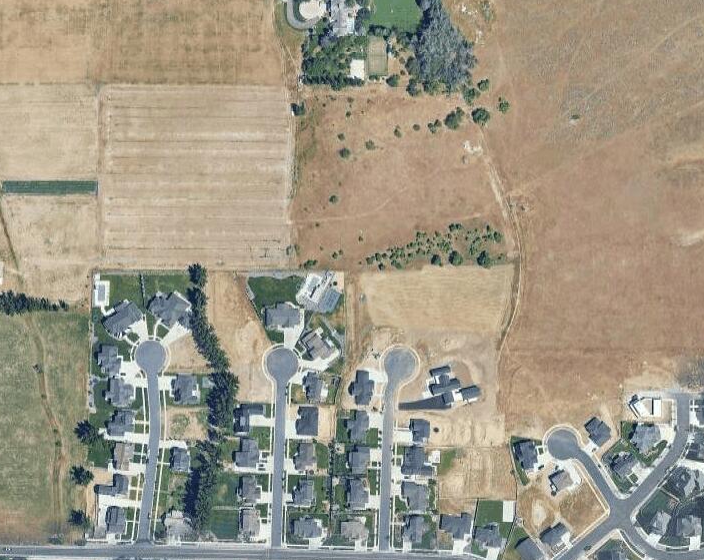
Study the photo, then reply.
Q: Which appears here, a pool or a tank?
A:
pool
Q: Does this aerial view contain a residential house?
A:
Yes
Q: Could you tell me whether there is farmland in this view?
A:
Yes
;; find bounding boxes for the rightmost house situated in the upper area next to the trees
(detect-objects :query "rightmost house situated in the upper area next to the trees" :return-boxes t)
[329,0,355,36]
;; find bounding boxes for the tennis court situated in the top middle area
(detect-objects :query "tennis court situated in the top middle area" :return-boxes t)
[369,37,388,76]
